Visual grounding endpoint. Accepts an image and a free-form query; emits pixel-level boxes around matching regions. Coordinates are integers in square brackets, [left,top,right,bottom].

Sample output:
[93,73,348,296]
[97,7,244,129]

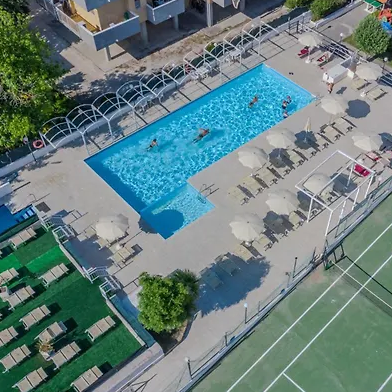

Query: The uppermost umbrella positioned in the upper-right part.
[297,34,322,63]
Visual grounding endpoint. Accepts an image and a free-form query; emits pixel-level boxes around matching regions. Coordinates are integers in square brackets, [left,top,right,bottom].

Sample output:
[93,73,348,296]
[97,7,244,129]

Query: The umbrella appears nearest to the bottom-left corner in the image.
[95,216,132,252]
